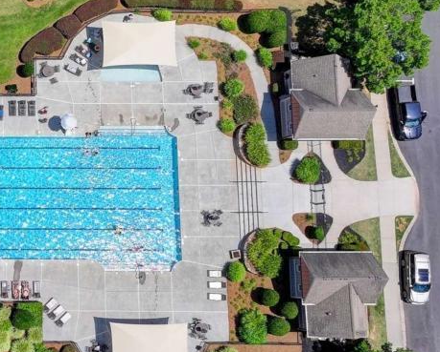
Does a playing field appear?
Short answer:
No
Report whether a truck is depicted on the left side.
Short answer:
No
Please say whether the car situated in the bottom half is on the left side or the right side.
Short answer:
right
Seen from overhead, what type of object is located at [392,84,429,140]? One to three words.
truck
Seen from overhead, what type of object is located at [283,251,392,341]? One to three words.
building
